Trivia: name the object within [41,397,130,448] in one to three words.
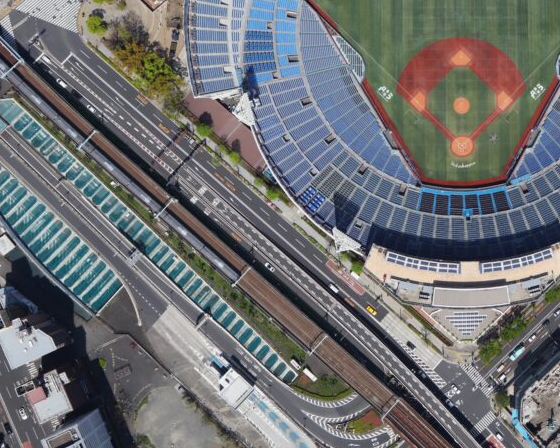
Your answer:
building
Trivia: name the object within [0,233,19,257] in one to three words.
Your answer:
building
